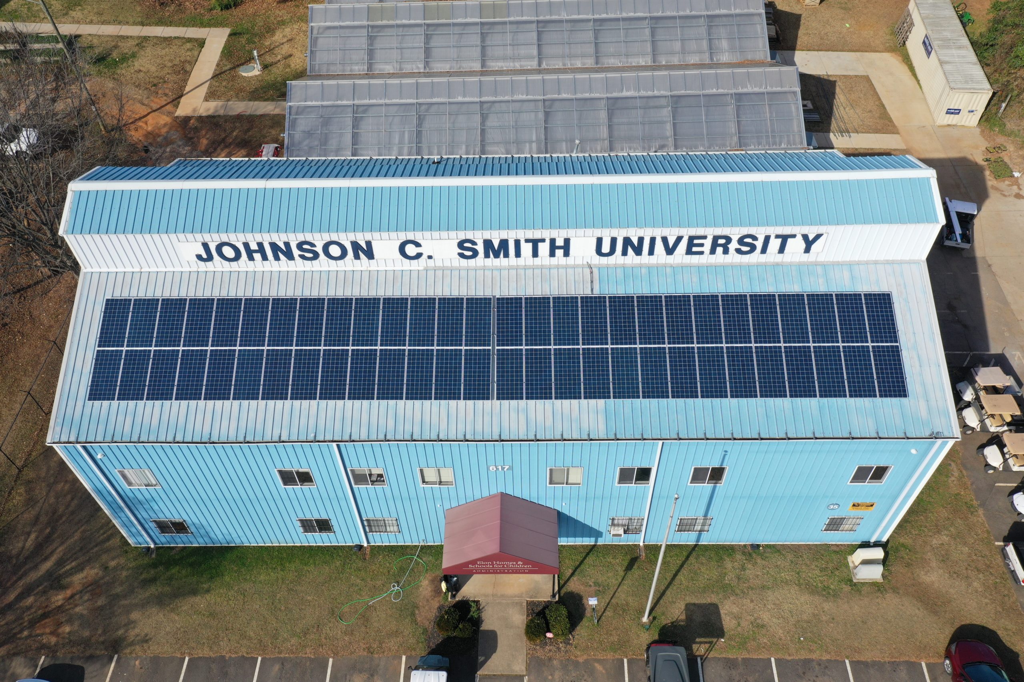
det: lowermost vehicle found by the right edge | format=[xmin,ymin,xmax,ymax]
[945,633,1021,682]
